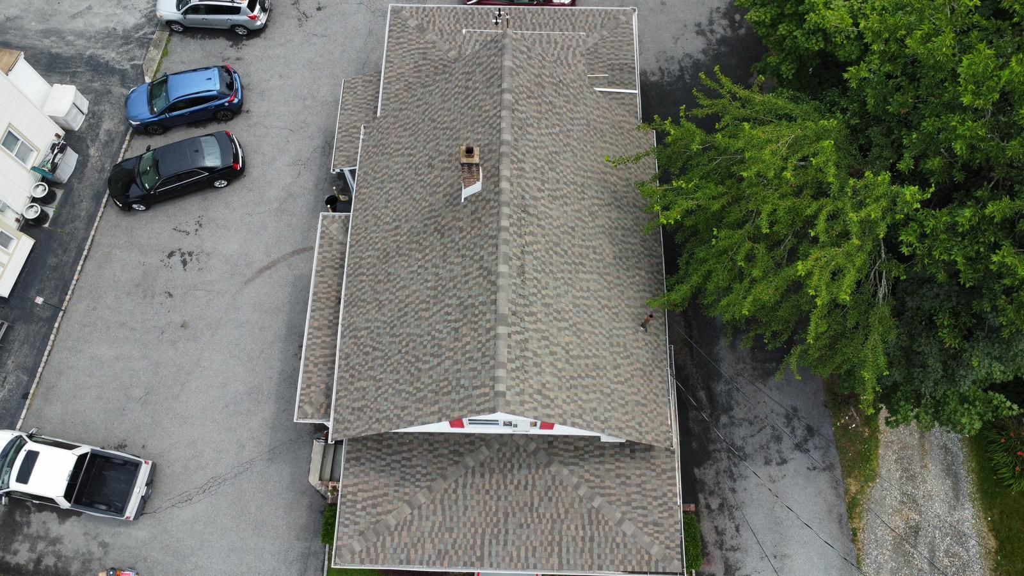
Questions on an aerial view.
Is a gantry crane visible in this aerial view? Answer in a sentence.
No, there isn't any gantry crane down there.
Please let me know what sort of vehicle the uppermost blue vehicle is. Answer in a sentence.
I'd identify the uppermost blue vehicle as a car.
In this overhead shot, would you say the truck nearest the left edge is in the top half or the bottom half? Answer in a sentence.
The bottom half of the photo is where the truck nearest the left edge is.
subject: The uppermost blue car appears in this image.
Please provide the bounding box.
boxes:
[126,63,248,134]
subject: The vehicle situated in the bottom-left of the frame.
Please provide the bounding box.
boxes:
[0,421,166,522]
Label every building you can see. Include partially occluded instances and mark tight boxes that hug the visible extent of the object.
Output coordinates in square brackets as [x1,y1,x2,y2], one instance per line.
[0,45,62,326]
[291,1,694,576]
